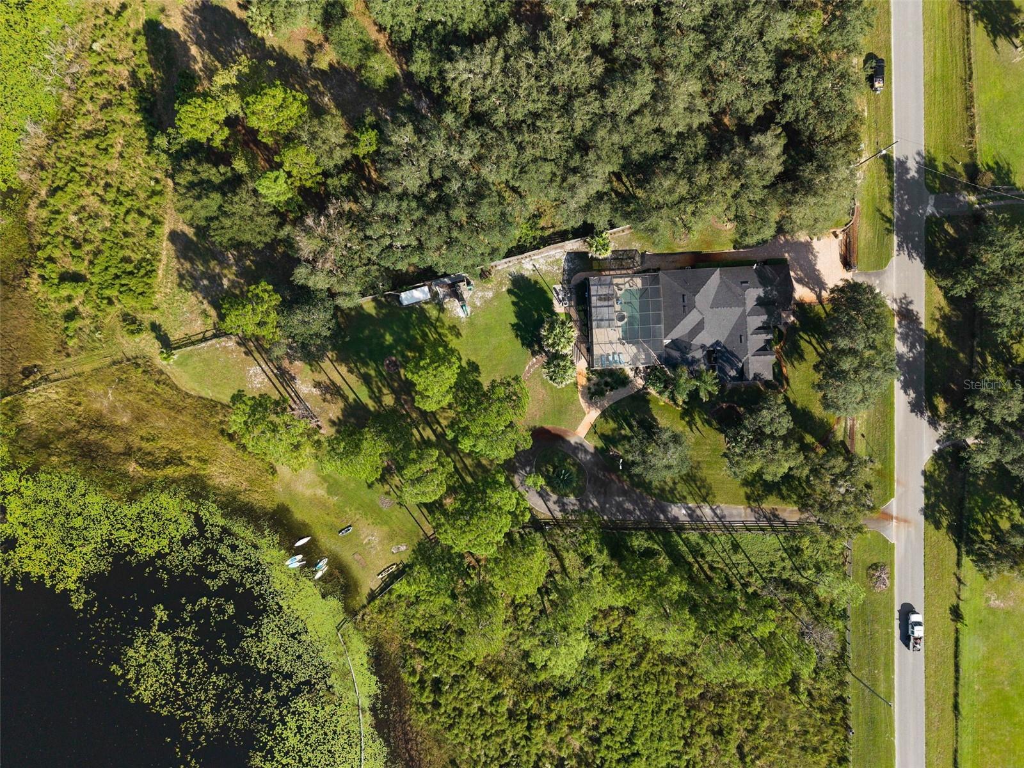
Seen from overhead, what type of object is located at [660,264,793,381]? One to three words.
house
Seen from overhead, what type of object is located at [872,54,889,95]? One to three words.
vehicle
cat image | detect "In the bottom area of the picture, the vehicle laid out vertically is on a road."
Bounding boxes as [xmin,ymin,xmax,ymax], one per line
[907,609,925,650]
